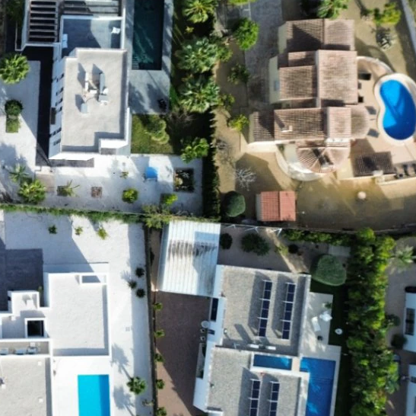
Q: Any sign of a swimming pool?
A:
Yes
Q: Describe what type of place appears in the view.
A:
residential area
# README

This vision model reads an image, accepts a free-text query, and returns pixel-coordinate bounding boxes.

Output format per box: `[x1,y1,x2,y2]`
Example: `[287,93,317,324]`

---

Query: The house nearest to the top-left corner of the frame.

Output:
[18,0,128,158]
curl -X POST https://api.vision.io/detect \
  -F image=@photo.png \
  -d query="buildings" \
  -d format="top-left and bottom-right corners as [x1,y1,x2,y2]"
[197,265,311,416]
[250,191,296,221]
[18,0,128,158]
[241,19,394,179]
[0,272,111,416]
[399,290,416,416]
